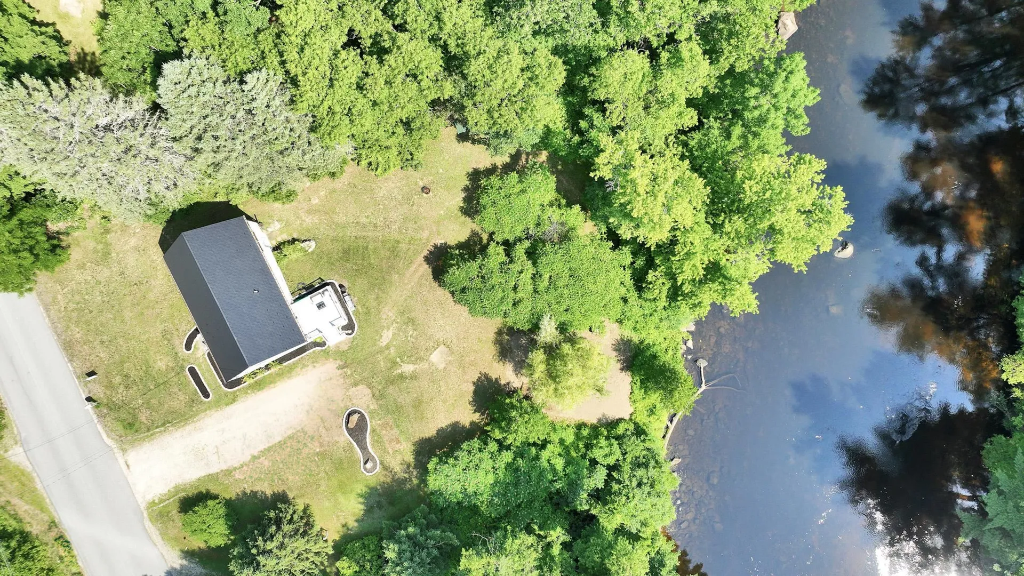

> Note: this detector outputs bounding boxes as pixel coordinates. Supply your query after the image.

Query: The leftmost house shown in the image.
[161,215,315,382]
